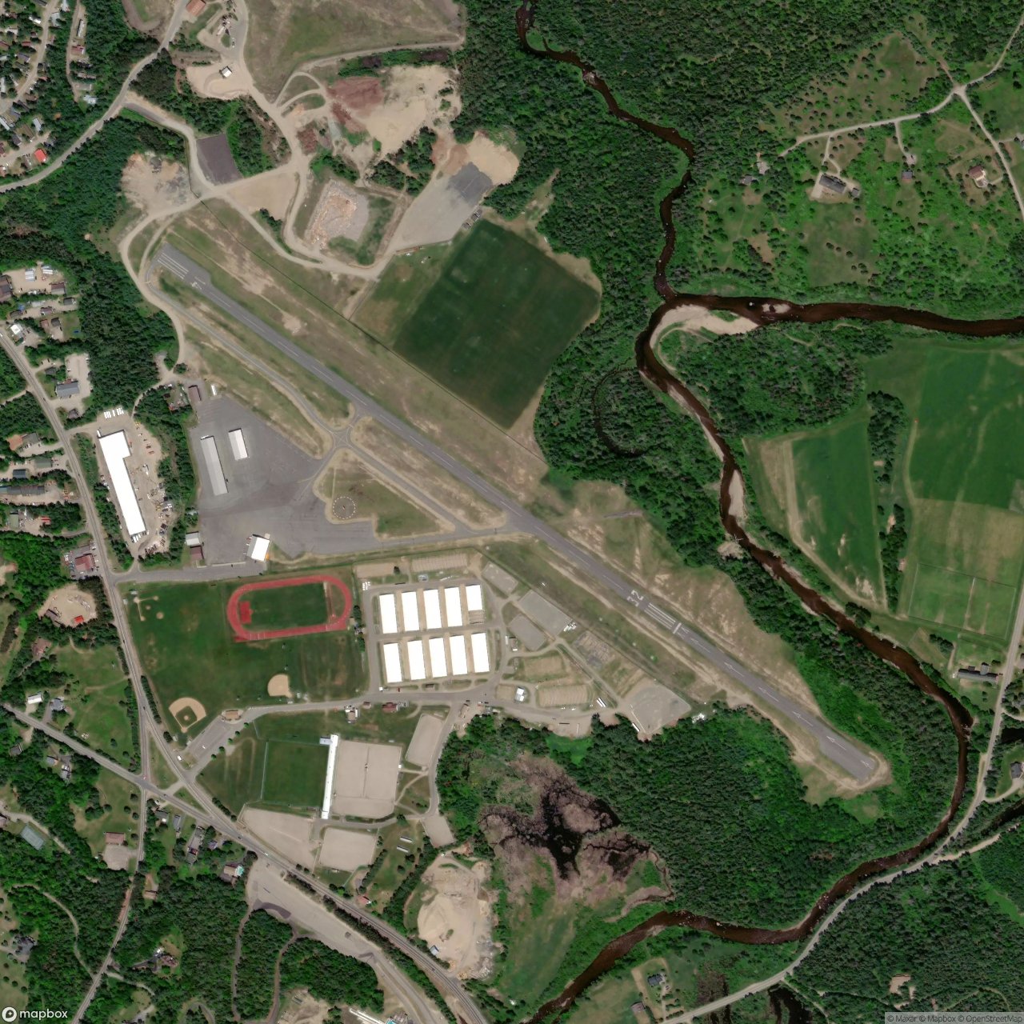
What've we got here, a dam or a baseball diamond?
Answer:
baseball diamond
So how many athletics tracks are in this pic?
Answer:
1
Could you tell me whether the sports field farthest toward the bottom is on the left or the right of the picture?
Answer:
left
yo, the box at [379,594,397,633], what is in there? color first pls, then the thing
white tent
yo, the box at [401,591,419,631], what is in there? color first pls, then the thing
white tent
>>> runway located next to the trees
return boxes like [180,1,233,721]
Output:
[153,243,875,781]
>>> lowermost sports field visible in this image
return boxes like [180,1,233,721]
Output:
[262,743,330,803]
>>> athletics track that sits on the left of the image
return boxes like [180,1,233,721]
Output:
[228,575,352,642]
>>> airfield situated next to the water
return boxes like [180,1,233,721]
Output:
[113,243,875,781]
